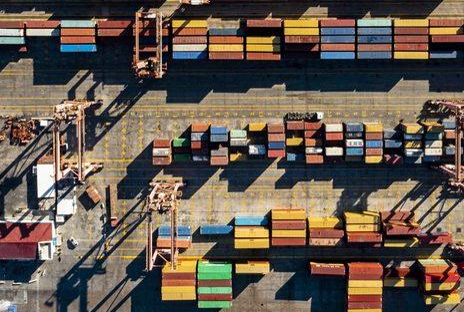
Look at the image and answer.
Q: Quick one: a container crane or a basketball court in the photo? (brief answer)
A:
container crane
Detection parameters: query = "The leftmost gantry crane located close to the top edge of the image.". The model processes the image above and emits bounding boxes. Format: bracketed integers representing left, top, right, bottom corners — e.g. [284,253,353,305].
[131,11,180,82]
